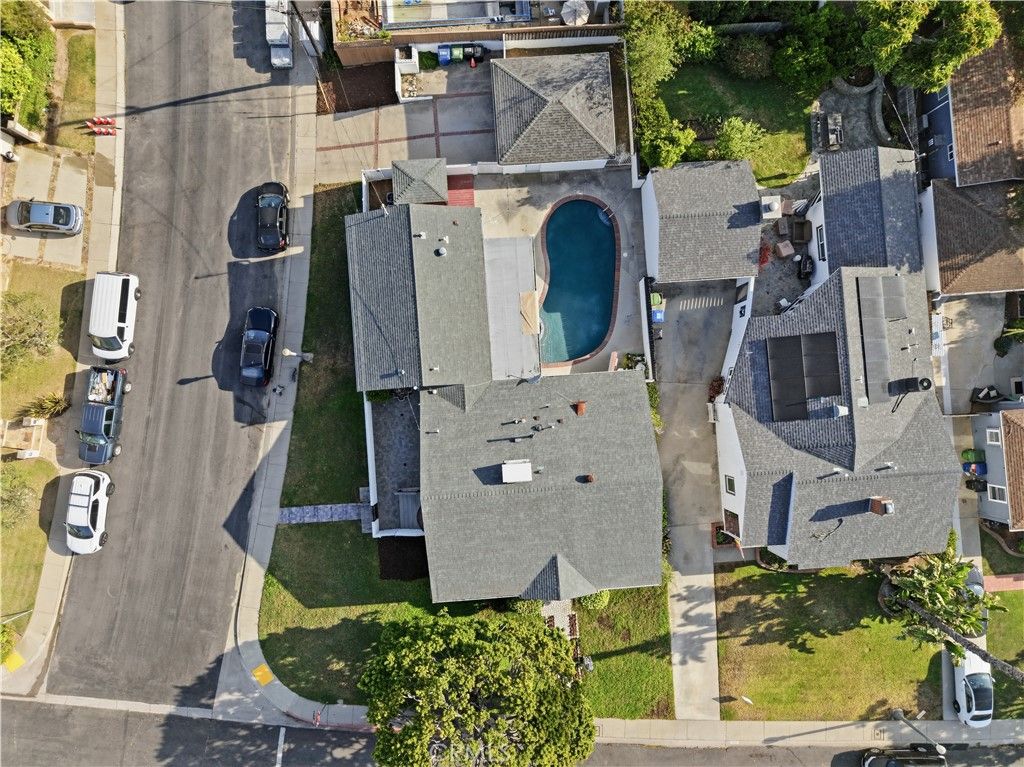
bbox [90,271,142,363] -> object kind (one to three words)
van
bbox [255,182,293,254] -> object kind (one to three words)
car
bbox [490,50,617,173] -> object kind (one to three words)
building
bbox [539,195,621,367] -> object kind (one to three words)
swimming pool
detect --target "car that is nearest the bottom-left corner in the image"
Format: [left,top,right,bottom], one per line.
[65,471,115,556]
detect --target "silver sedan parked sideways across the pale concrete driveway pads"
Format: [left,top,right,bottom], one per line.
[7,196,85,232]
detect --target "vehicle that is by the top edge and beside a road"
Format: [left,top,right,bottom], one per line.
[258,0,296,70]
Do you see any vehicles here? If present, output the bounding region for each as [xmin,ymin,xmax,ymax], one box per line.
[65,471,115,556]
[951,643,993,727]
[860,747,946,767]
[90,271,142,363]
[7,196,85,232]
[82,367,133,467]
[255,182,293,254]
[258,0,296,70]
[241,305,281,387]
